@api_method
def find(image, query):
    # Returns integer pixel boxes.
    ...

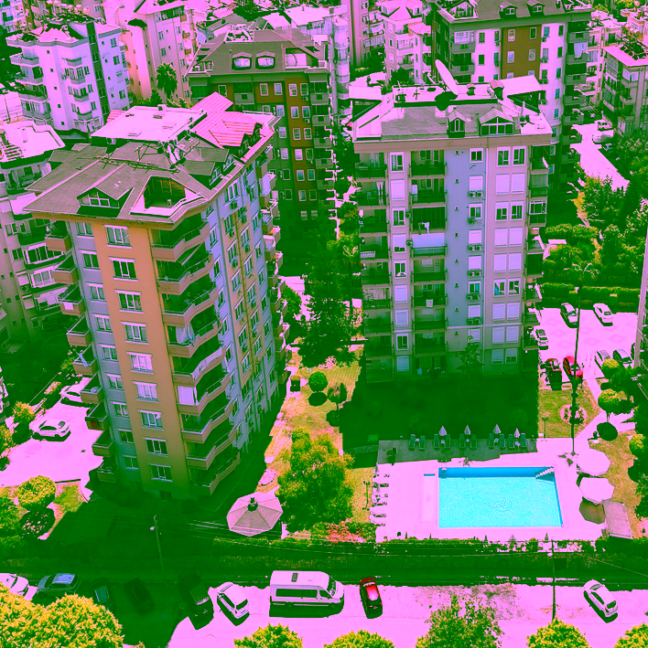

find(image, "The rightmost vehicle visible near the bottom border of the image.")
[583,581,621,617]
